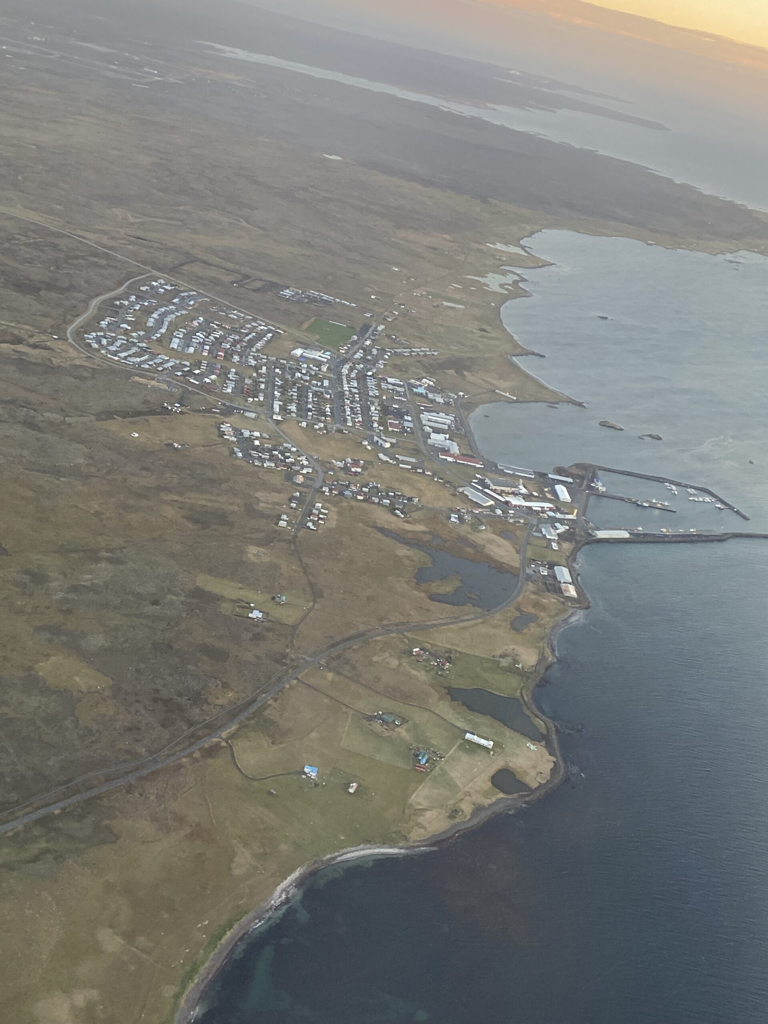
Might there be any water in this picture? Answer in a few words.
Yes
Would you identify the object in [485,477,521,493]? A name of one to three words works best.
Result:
building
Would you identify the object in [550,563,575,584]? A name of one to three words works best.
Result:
building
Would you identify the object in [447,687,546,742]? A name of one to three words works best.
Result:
pond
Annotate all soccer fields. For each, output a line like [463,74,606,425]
[305,318,358,347]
